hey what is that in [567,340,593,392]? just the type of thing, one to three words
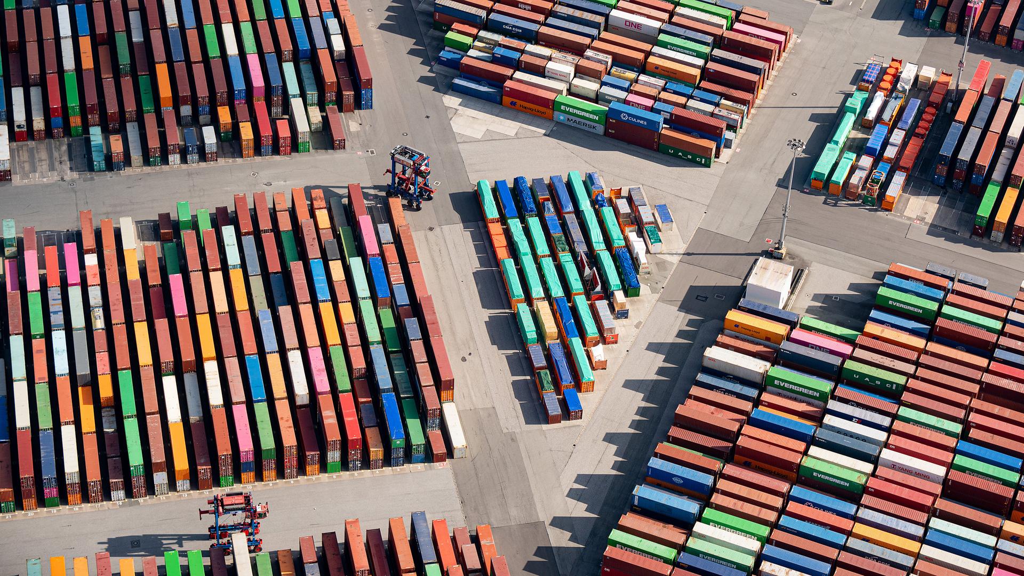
shipping container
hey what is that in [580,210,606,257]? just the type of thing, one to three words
shipping container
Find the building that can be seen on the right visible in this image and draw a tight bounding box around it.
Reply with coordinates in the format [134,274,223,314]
[744,257,793,310]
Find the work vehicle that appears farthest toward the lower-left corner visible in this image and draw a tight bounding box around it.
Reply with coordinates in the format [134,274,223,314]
[199,487,270,555]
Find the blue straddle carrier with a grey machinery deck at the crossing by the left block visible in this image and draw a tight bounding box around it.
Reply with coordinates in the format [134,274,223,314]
[382,143,437,210]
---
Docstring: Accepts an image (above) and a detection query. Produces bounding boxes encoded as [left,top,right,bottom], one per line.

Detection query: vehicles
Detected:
[382,143,437,210]
[199,487,270,555]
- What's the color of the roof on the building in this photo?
white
